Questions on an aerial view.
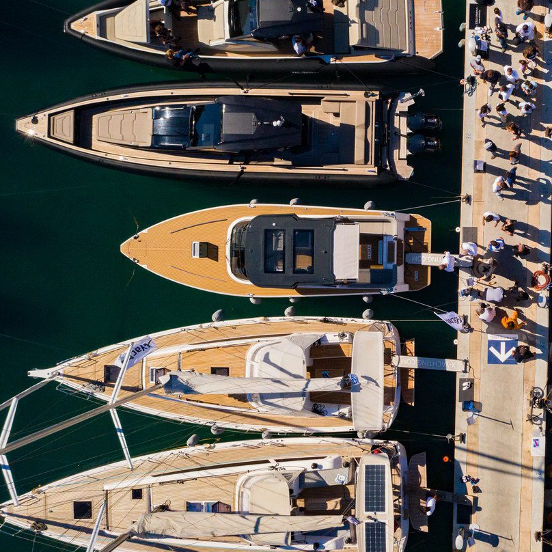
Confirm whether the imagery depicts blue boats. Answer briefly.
No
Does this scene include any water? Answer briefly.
Yes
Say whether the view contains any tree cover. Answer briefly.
No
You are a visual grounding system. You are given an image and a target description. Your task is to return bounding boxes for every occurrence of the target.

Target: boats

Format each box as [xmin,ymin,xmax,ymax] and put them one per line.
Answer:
[59,0,444,75]
[0,315,415,506]
[0,432,429,552]
[11,78,441,186]
[121,203,432,298]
